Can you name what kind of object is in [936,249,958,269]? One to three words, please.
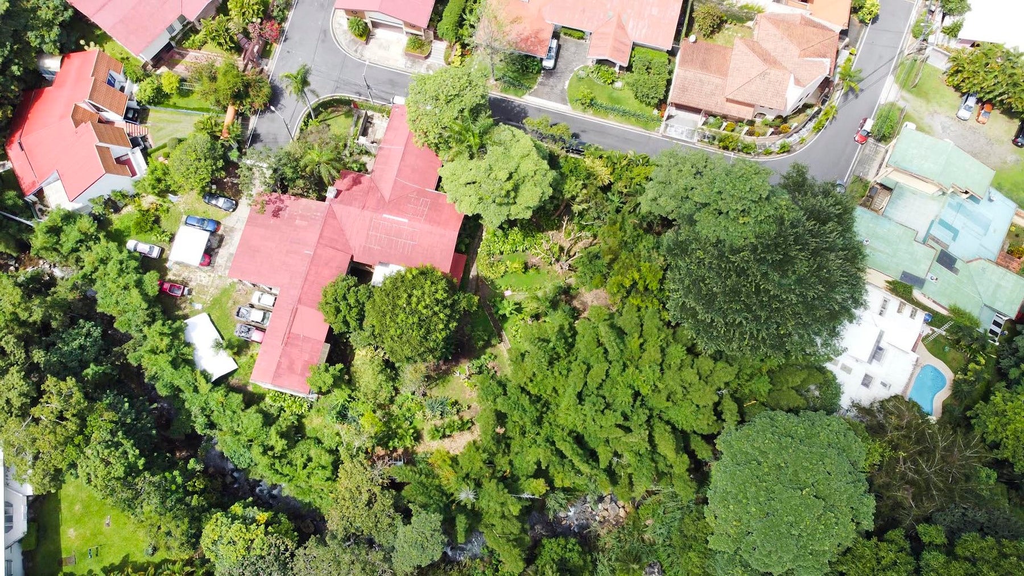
solar panel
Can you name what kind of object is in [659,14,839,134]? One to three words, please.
house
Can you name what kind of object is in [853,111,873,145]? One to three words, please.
car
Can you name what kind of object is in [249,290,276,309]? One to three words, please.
car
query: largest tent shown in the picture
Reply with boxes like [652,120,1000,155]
[185,313,243,380]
